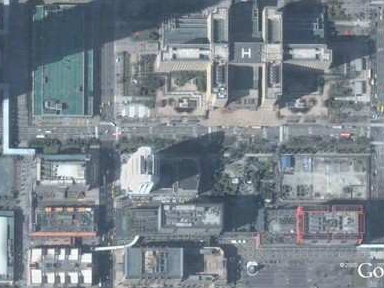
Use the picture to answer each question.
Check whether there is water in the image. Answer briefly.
No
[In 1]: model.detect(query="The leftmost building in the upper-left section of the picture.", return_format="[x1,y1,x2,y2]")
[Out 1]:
[33,5,94,118]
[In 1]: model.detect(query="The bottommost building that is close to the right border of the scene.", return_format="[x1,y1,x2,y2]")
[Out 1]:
[295,205,365,248]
